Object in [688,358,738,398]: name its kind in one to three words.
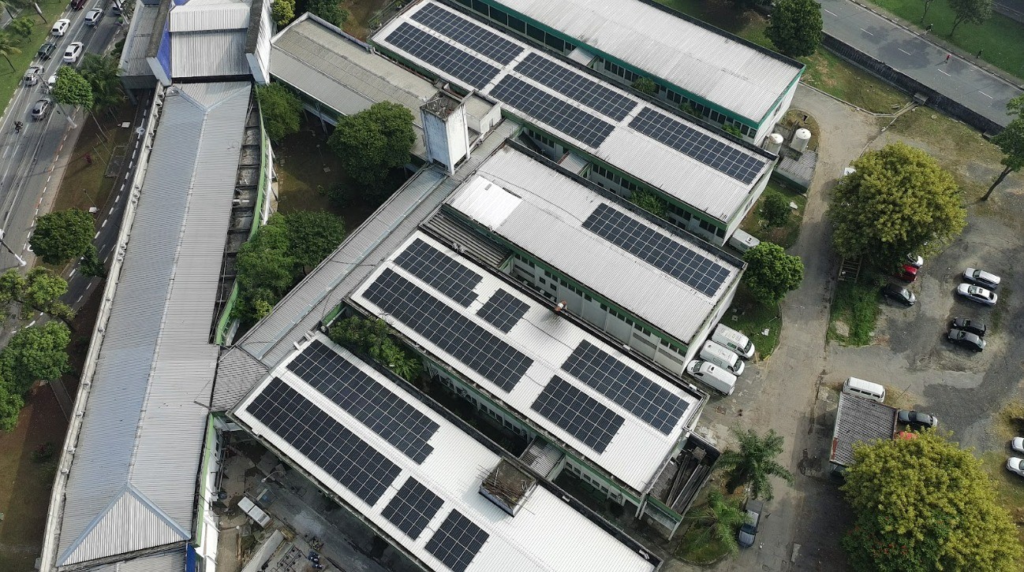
van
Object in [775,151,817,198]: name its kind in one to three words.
shed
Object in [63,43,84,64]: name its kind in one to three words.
car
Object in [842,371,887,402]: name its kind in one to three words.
vehicle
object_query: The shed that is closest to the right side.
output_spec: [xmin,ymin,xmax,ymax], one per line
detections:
[824,391,899,472]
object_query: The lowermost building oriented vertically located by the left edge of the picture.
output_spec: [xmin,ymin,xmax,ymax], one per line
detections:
[35,81,279,572]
